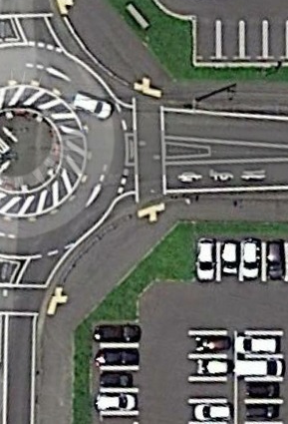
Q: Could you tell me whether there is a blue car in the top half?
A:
No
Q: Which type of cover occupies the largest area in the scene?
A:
paved ground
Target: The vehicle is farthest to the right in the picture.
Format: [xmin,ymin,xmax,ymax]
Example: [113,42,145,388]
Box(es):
[268,242,286,280]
